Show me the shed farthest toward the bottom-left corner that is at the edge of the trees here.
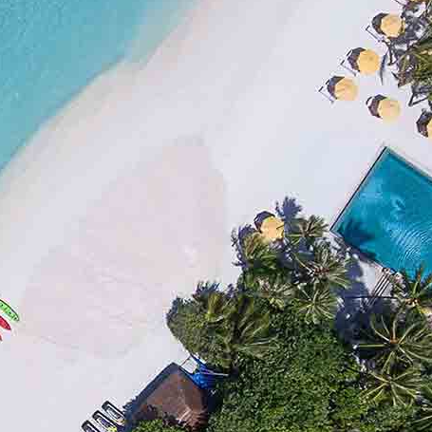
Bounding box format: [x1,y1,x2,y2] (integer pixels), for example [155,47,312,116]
[130,371,212,432]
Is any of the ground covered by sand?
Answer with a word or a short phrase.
Yes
